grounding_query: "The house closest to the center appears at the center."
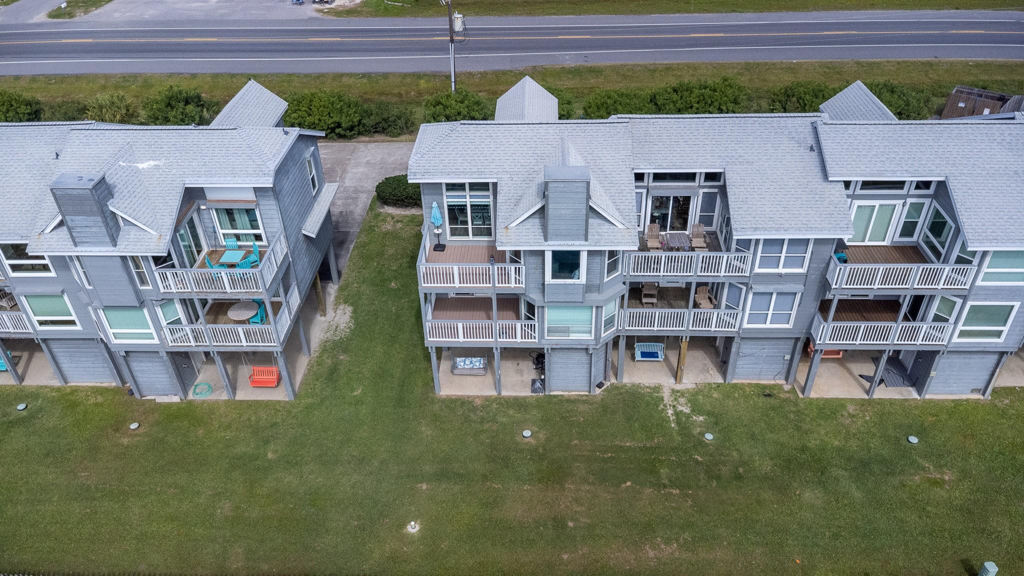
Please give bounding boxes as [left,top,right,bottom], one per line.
[407,75,637,394]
